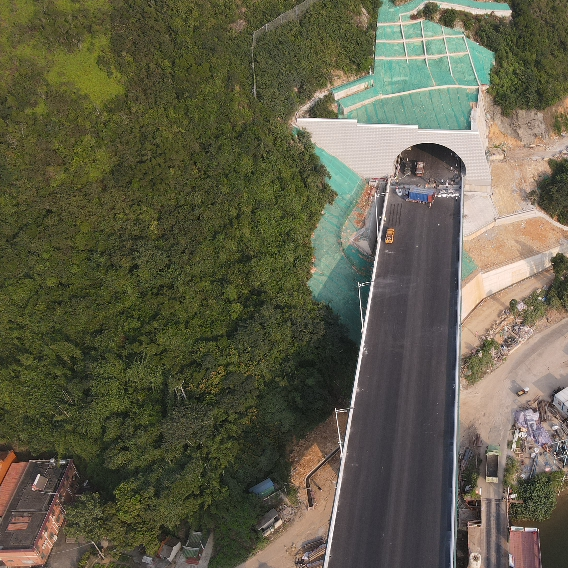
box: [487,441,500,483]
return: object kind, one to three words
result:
vehicle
